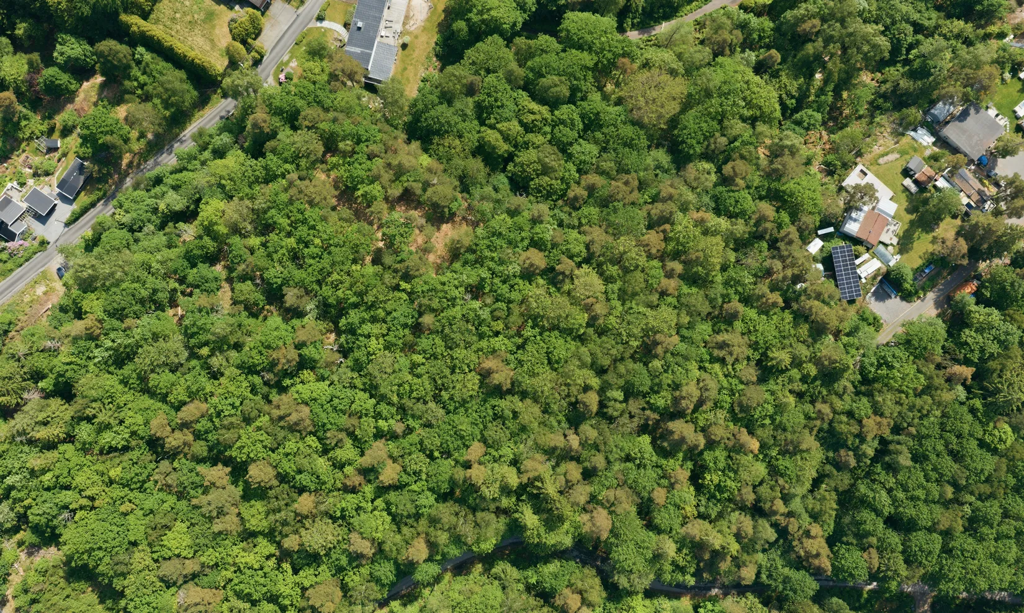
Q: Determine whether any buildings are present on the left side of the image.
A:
Yes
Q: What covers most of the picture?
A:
trees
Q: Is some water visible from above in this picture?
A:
No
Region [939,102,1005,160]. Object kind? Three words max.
house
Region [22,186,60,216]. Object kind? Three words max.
building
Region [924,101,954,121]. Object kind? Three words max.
shed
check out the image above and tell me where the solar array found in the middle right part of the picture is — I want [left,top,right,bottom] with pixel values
[832,244,862,300]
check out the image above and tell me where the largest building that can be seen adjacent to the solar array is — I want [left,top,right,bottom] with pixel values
[841,163,897,250]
